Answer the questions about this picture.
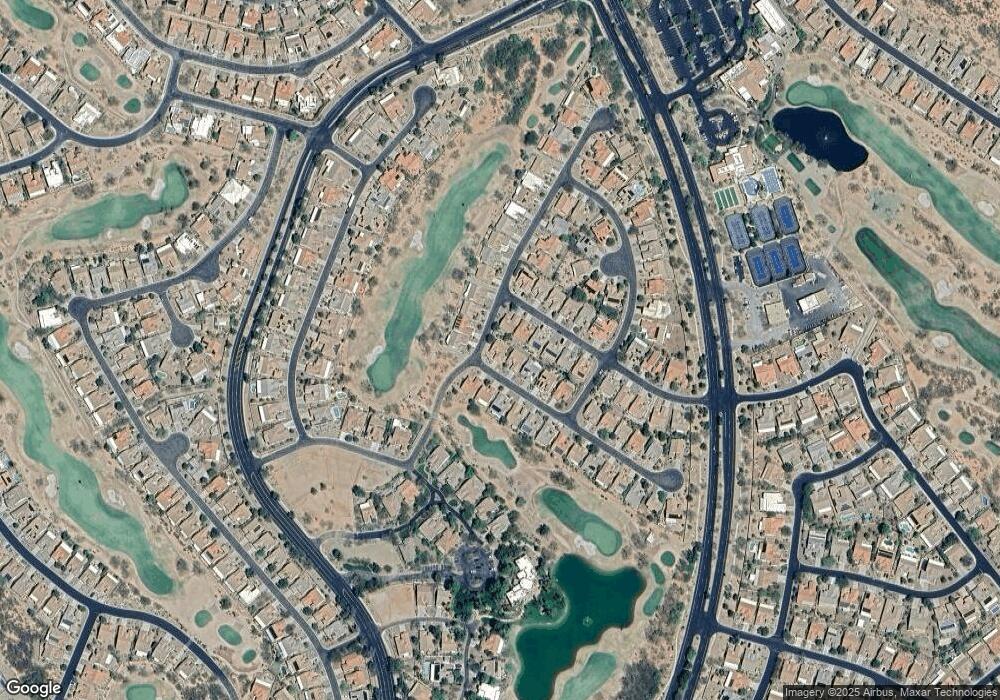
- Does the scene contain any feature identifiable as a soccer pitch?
No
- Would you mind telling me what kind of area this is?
residential area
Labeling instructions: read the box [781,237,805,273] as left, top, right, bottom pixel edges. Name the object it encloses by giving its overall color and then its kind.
blue tennis court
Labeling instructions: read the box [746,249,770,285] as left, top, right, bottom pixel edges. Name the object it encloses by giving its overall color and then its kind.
blue tennis court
